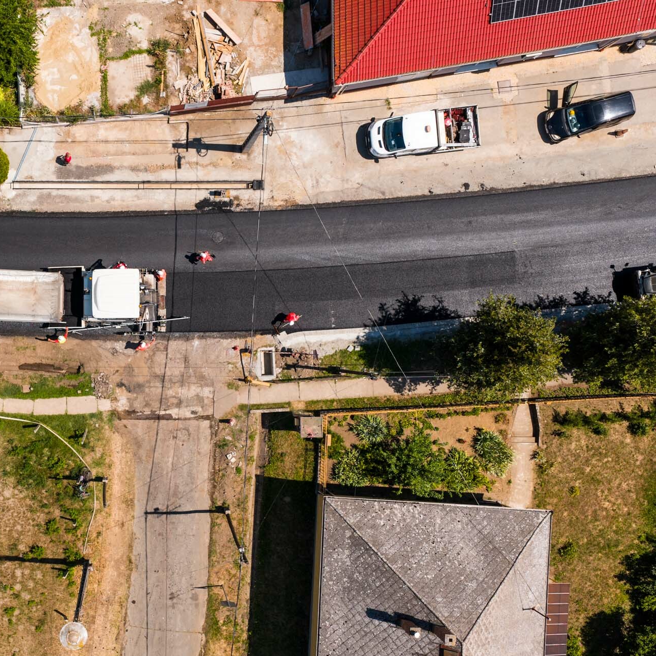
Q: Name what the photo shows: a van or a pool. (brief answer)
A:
van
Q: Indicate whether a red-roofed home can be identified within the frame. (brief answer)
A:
Yes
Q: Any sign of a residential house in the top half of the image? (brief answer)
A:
Yes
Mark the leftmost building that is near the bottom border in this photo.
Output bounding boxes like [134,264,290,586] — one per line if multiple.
[308,490,555,656]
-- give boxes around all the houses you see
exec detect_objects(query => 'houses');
[308,490,555,656]
[325,0,656,96]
